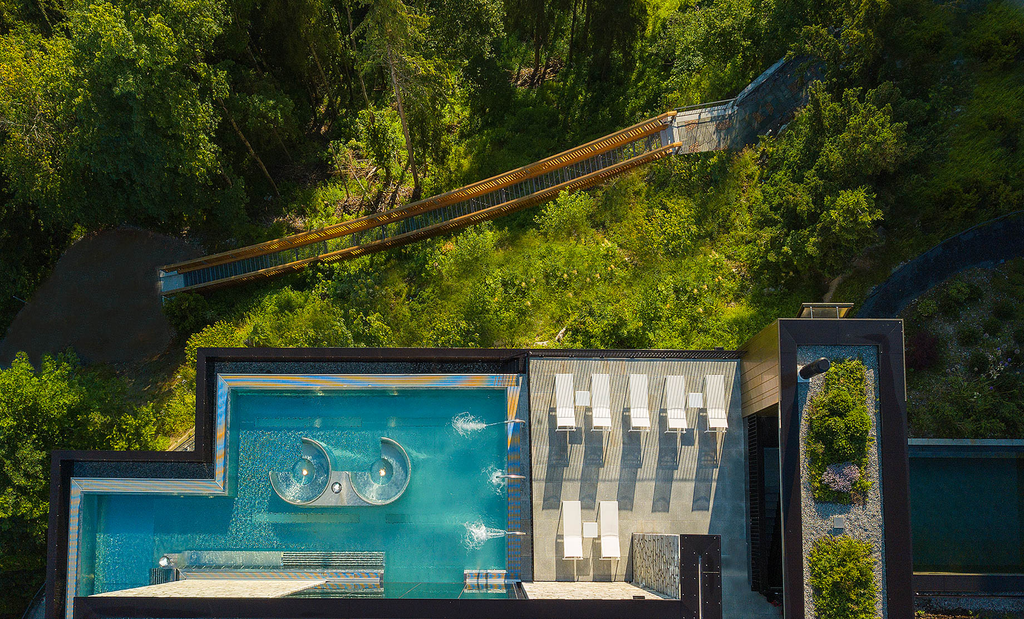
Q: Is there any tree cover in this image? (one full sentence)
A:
Yes, some tree cover is visible.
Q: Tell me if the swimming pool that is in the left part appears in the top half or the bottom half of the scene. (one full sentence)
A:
Seen from above, the swimming pool that is in the left part lies in the bottom half of the view.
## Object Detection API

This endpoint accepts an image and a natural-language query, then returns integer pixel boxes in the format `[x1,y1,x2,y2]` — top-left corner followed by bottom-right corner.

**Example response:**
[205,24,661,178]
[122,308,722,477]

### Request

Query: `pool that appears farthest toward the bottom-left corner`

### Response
[63,373,521,619]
